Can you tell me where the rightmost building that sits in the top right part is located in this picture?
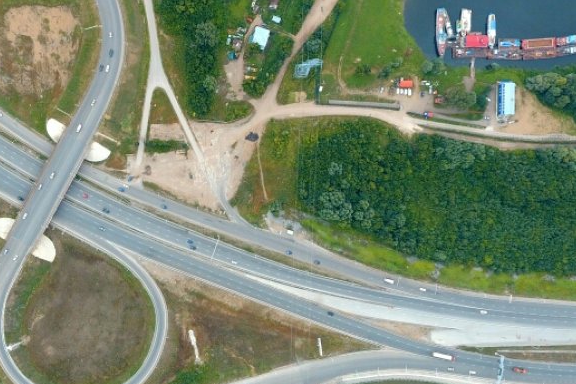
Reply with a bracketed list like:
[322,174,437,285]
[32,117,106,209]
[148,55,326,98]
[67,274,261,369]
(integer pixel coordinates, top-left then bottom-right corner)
[493,81,516,120]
